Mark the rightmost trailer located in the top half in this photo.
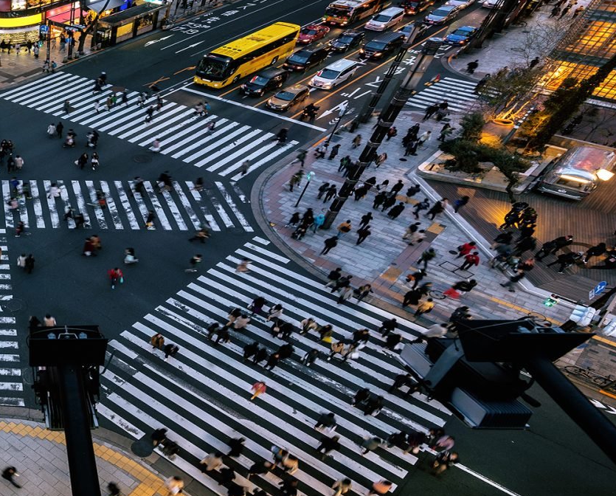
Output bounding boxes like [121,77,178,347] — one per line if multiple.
[534,146,615,204]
